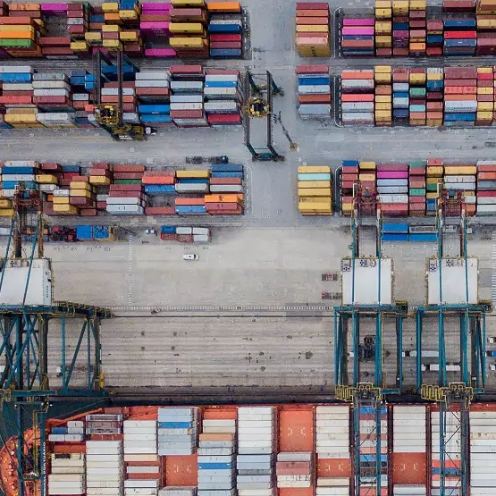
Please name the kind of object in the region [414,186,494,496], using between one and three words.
container crane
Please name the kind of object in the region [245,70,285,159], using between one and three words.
container crane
